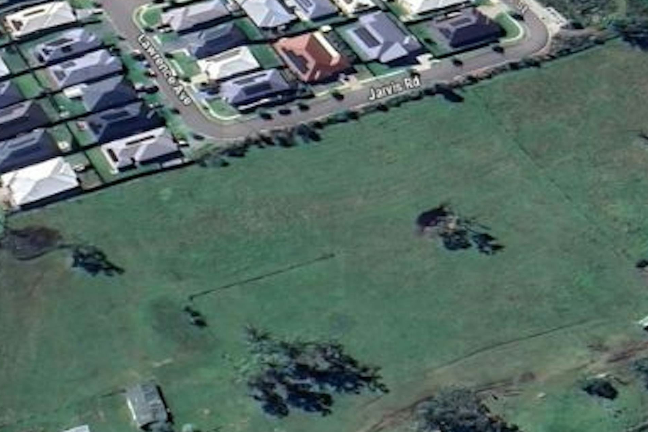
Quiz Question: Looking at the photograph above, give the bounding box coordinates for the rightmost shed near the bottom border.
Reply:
[127,383,169,432]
